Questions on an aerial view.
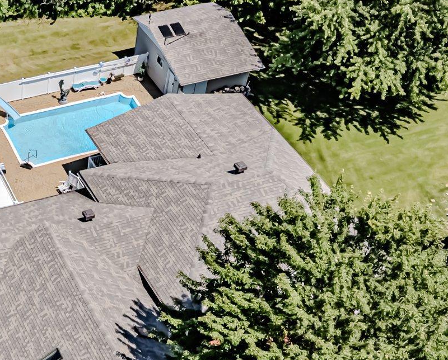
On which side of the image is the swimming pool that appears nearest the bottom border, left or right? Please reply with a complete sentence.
You can find the swimming pool that appears nearest the bottom border on the left side of the picture.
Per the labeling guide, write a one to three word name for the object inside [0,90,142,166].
swimming pool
